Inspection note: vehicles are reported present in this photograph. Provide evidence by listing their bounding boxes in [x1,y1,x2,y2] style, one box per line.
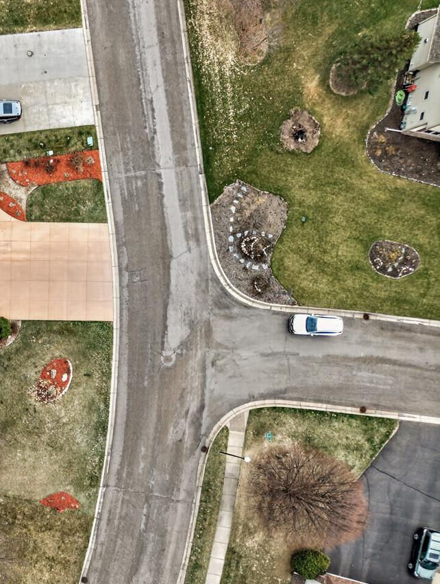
[283,311,344,338]
[409,523,440,581]
[0,99,23,123]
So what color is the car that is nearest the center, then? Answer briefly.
white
